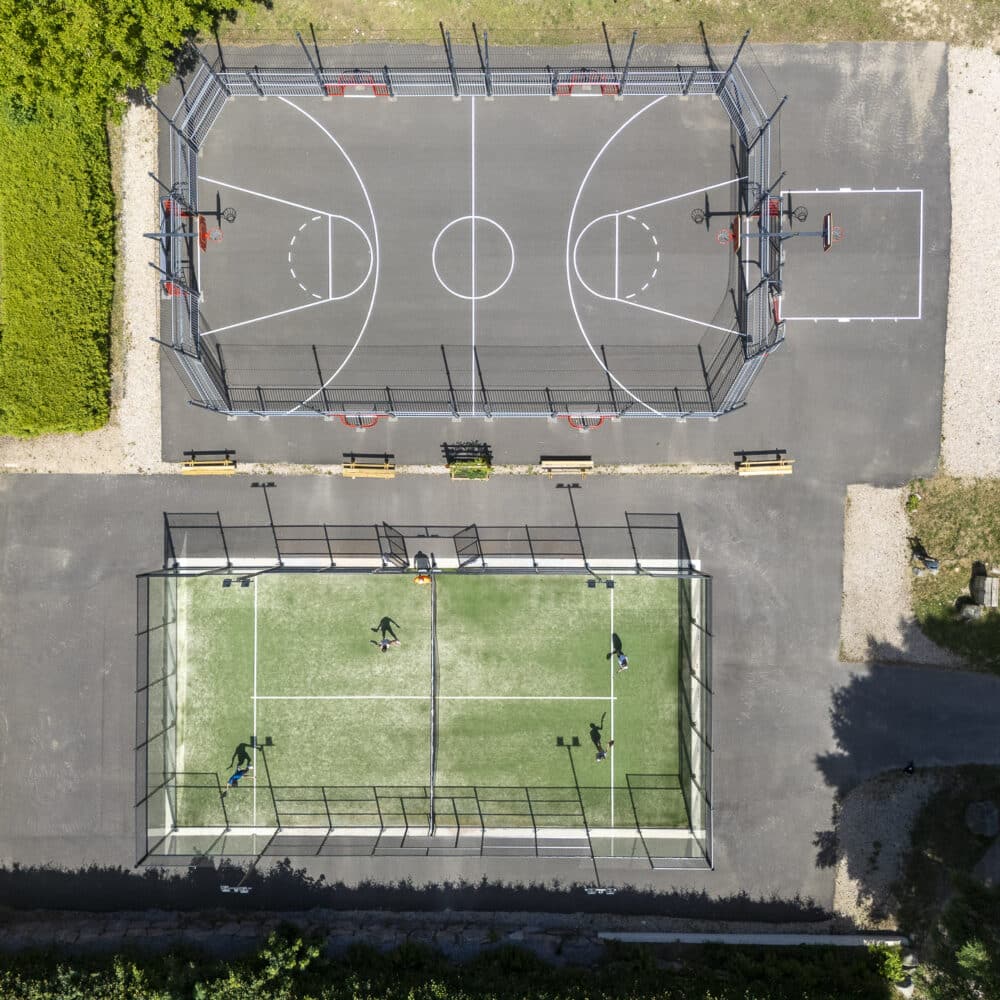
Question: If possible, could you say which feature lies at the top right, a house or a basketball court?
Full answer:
The feature located at the top right is a basketball court.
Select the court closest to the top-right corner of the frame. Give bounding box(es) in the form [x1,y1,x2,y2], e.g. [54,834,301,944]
[781,188,923,323]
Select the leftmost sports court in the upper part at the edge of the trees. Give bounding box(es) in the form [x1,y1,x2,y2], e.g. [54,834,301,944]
[198,96,748,418]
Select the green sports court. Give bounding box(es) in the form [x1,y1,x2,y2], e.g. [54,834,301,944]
[166,559,702,838]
